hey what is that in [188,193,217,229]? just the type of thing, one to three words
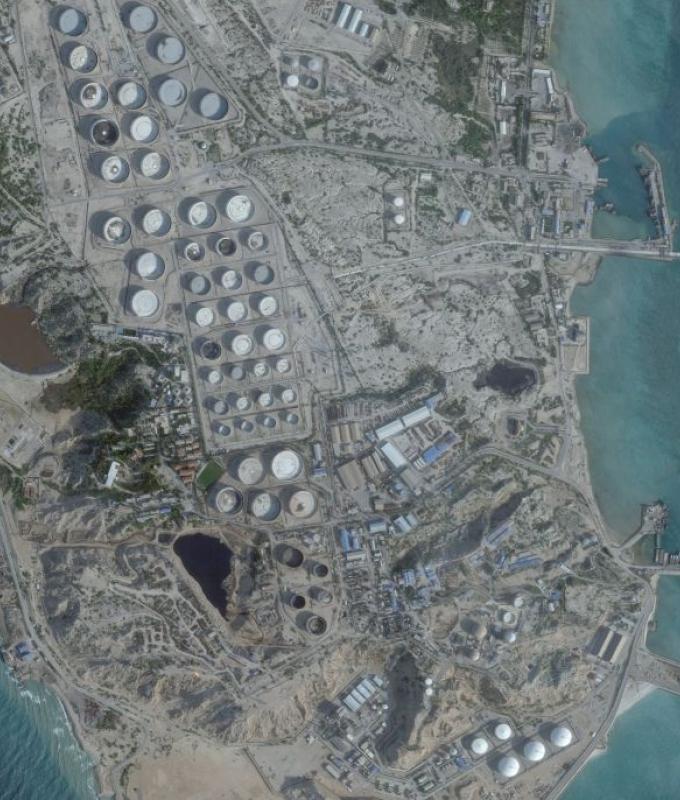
storage tank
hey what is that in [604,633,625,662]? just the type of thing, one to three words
building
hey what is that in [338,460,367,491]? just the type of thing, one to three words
building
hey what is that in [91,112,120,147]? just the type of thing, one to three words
storage tank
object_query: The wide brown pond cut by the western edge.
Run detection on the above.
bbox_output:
[0,303,66,374]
